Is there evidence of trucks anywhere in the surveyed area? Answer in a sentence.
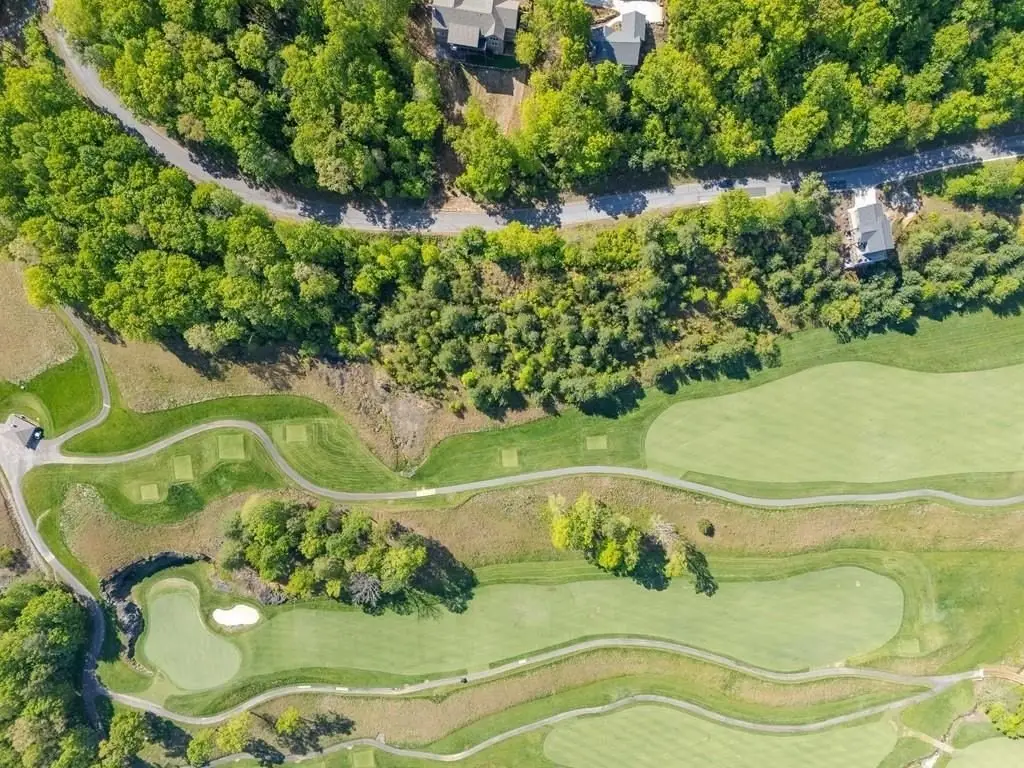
No, there is no truck in the image.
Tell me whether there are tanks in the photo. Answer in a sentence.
No, I find no tank anywhere in the image.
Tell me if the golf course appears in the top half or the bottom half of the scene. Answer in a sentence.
It is in the bottom half that the golf course appears.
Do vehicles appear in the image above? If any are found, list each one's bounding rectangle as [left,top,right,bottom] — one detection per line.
[459,678,468,686]
[831,179,849,188]
[31,430,40,439]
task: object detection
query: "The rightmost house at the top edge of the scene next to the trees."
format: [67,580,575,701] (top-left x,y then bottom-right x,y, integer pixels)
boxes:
[600,11,645,81]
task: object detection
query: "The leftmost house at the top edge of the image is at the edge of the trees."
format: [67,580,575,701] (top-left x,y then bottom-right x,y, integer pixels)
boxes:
[437,0,521,59]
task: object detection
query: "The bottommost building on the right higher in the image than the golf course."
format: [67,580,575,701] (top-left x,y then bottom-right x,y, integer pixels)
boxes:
[847,205,897,270]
